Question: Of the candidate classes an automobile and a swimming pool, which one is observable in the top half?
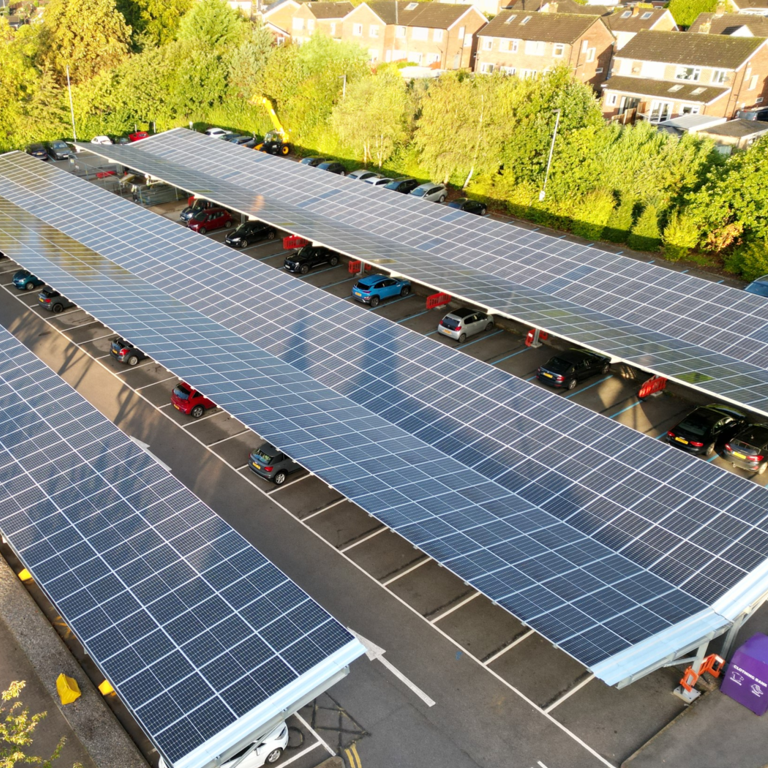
automobile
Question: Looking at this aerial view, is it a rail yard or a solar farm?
solar farm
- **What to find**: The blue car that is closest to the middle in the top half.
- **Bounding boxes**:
[351,275,410,307]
